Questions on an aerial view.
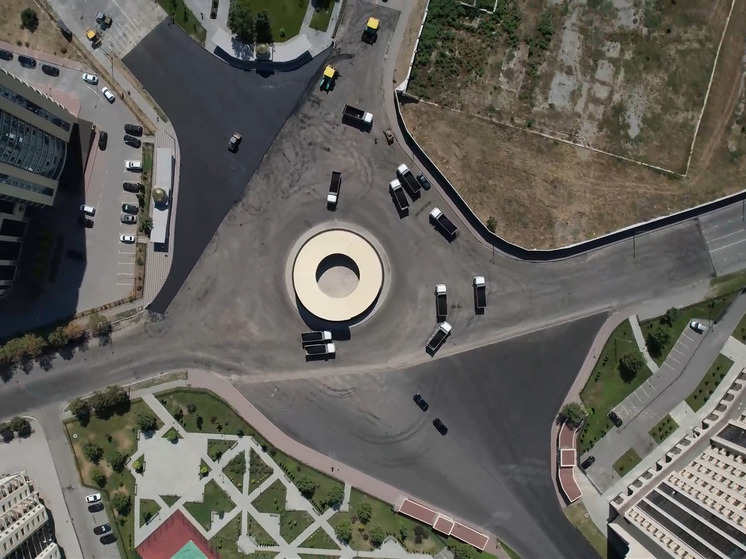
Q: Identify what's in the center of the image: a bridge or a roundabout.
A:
roundabout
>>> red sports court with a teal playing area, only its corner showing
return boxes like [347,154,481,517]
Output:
[130,509,224,559]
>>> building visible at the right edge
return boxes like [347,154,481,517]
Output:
[603,363,746,559]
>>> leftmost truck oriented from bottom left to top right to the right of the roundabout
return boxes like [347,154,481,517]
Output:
[426,320,450,350]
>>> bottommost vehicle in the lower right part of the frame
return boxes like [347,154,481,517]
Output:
[581,455,596,469]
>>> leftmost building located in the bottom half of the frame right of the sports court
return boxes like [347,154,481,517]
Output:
[399,496,489,550]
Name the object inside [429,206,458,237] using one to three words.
truck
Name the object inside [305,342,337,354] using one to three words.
vehicle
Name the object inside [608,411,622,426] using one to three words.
car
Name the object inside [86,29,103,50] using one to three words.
work vehicle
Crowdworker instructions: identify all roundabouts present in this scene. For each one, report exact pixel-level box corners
[285,223,391,329]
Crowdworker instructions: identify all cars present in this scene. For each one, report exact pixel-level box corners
[102,87,116,103]
[85,493,102,502]
[121,215,138,223]
[19,57,36,67]
[417,174,429,190]
[581,455,596,469]
[87,502,106,512]
[122,204,139,212]
[125,125,142,134]
[120,235,136,242]
[42,66,60,76]
[124,136,141,146]
[79,218,95,226]
[95,523,111,533]
[98,131,108,149]
[433,418,447,434]
[414,394,427,409]
[690,321,707,332]
[608,411,622,426]
[68,250,85,258]
[82,74,100,84]
[100,533,118,544]
[0,50,15,60]
[123,183,141,191]
[126,161,143,169]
